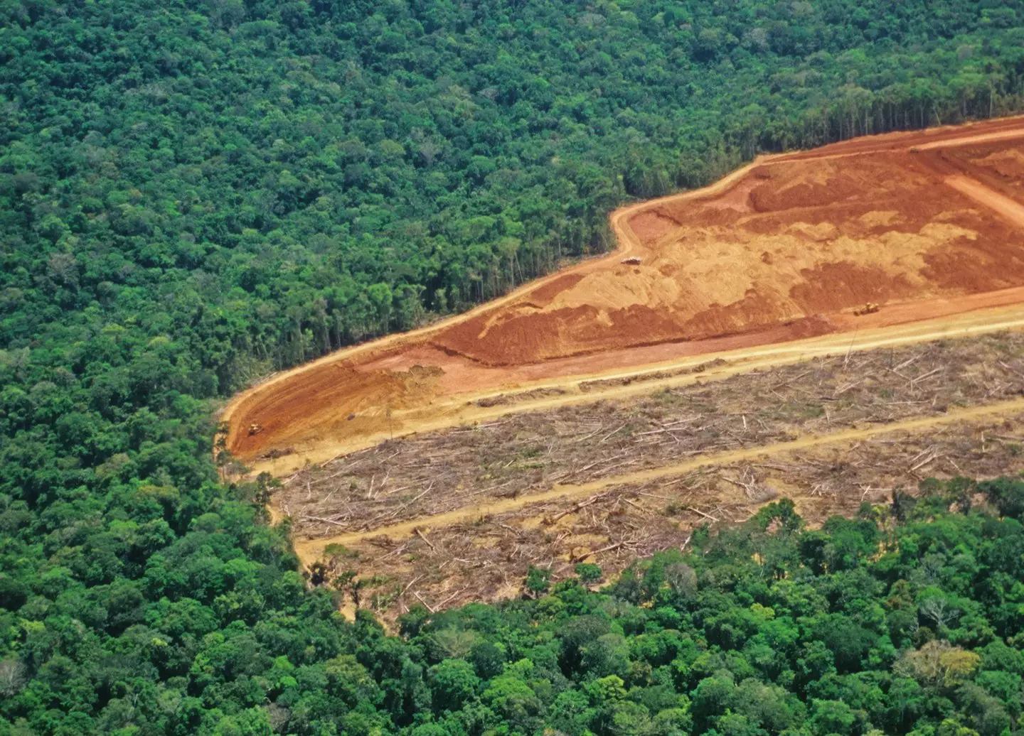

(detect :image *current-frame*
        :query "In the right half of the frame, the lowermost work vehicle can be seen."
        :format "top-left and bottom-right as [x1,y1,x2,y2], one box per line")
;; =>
[855,305,877,317]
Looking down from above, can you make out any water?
No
